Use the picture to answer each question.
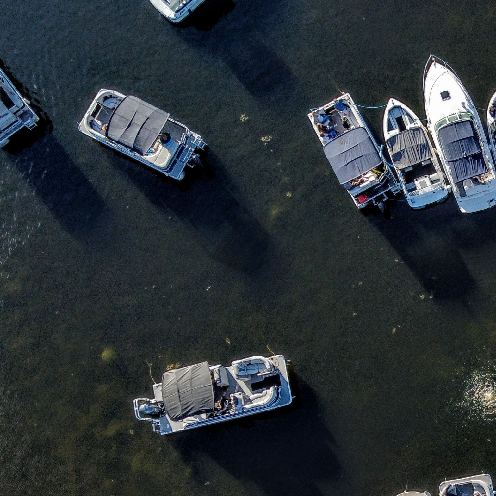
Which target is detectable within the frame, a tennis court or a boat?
boat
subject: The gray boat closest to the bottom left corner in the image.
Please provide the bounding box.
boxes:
[133,351,297,441]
